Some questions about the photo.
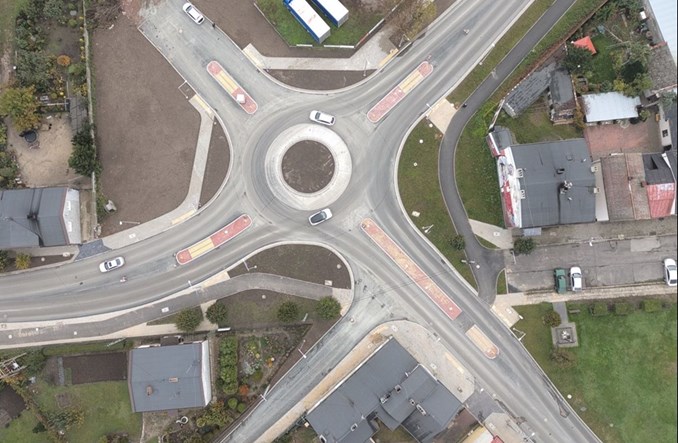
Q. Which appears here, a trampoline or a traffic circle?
traffic circle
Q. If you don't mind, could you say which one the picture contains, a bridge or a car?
car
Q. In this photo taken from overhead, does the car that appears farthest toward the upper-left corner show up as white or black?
white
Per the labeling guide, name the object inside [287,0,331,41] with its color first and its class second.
white trailer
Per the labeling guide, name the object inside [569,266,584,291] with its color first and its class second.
white car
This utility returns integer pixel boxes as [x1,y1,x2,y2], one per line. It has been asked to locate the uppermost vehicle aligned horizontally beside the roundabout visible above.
[309,109,336,125]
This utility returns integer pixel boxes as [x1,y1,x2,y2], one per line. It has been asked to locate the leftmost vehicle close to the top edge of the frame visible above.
[179,0,205,24]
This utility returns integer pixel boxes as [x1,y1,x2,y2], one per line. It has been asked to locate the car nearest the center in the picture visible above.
[308,209,332,225]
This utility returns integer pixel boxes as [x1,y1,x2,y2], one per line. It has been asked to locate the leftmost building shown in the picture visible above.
[0,190,42,249]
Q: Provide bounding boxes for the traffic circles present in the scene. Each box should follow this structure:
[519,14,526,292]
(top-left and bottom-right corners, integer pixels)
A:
[265,123,351,210]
